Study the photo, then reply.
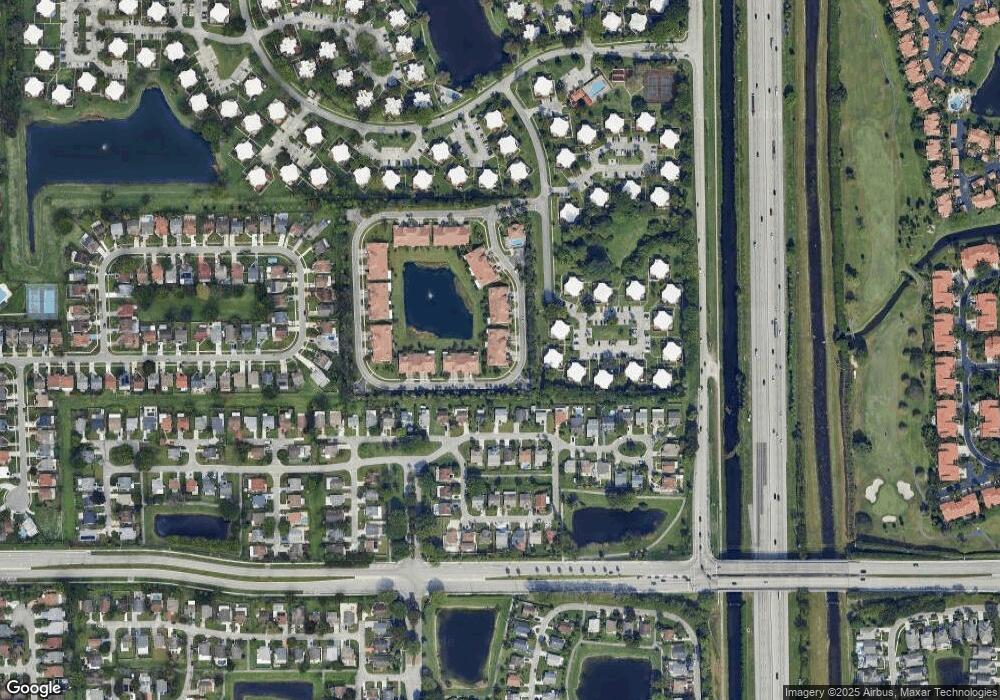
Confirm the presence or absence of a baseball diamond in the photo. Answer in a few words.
No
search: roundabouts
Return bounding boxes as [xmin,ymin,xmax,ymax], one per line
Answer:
[612,434,651,462]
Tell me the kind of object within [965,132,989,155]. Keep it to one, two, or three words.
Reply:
house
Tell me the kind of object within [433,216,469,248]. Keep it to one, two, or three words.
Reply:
building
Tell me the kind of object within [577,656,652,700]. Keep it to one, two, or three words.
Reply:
pond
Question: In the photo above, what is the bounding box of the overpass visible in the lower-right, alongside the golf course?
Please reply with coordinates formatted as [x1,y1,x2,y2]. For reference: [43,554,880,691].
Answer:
[715,558,851,592]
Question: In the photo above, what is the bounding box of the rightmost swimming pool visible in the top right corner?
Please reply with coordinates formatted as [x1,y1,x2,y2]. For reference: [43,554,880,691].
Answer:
[947,88,971,112]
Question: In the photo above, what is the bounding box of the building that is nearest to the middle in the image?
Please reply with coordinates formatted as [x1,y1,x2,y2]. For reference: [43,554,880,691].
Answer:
[486,328,520,366]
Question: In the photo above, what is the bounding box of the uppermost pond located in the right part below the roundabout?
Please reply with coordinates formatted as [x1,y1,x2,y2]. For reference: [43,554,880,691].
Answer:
[571,506,665,548]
